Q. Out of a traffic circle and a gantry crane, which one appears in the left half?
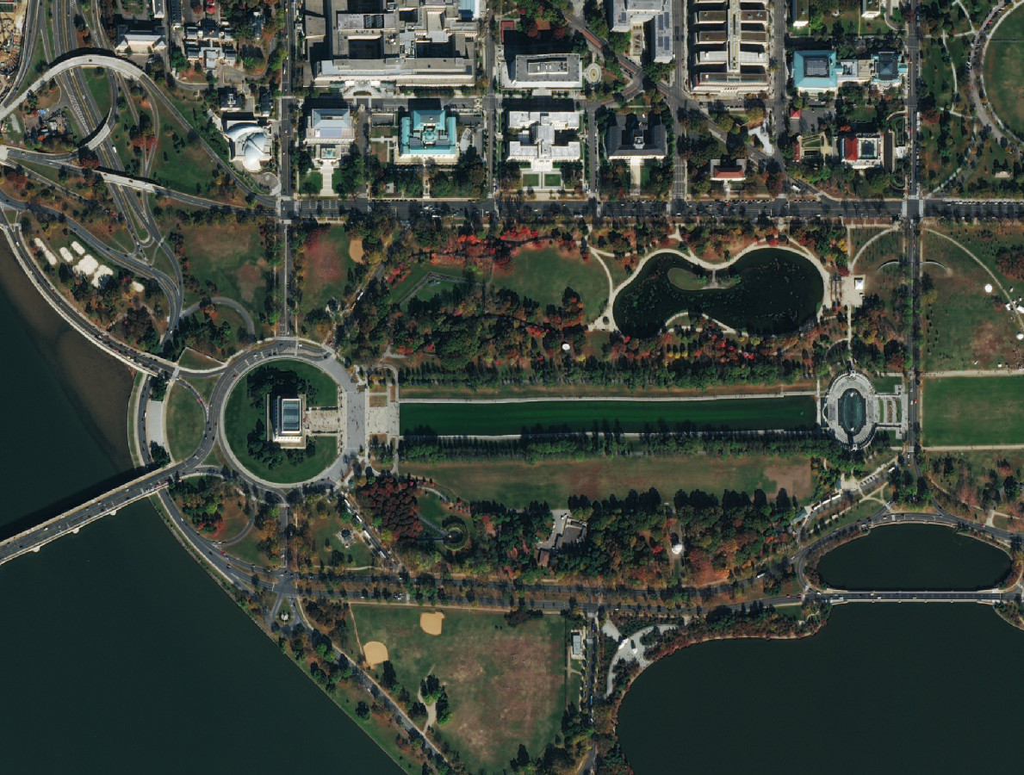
traffic circle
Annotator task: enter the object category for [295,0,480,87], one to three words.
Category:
building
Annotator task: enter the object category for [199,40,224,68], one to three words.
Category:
building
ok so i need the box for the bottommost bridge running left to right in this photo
[825,587,999,605]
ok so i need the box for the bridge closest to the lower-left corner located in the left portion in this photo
[0,467,177,570]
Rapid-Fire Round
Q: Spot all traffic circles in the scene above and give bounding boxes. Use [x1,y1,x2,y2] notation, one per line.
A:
[208,344,328,496]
